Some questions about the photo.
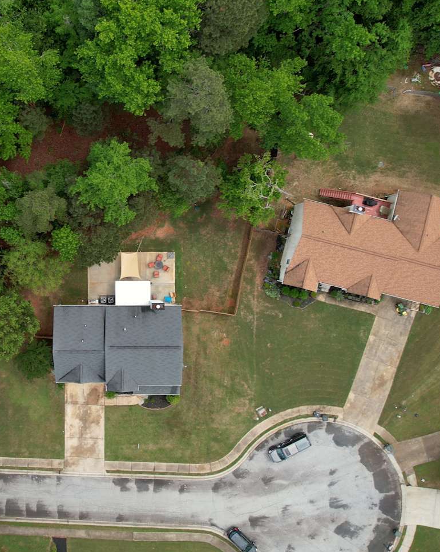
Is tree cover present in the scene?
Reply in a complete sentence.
Yes, tree cover shows up in the scene.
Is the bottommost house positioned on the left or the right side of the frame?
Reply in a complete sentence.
The bottommost house is on the left side of the image.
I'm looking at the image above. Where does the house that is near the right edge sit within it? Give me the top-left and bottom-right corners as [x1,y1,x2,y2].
[280,190,440,310]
